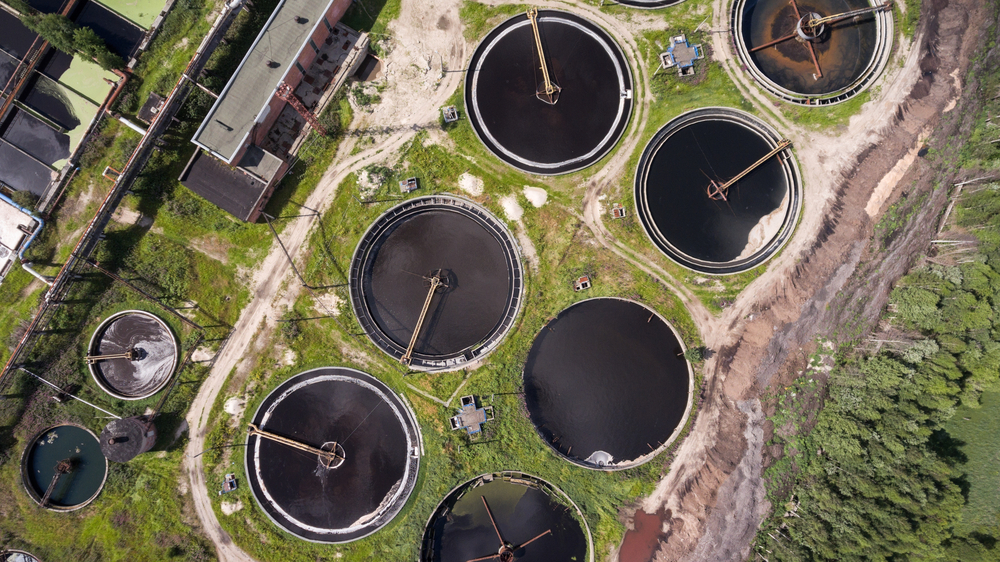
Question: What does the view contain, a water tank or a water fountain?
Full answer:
This aerial view contains a water tank.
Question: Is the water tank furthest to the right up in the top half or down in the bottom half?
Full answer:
You can find the water tank furthest to the right in the top half.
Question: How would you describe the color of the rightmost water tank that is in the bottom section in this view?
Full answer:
The color of the rightmost water tank that is in the bottom section is black.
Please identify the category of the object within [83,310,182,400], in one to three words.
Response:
water tank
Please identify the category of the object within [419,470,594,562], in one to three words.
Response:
water tank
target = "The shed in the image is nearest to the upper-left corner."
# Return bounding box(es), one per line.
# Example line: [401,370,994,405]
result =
[136,92,164,121]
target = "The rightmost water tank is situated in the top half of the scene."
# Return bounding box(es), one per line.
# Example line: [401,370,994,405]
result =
[728,0,894,108]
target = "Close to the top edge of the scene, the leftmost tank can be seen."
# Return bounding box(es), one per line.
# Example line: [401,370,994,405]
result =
[465,8,633,177]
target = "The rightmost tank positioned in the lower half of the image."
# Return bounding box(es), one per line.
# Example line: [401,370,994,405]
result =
[522,297,694,470]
